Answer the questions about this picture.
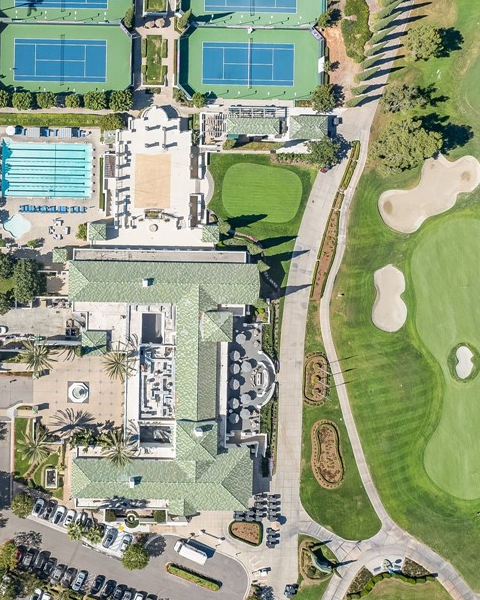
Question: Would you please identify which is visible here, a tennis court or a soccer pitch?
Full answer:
Of the two, only a tennis court appears.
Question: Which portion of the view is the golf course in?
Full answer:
The golf course sits in the right section of the image.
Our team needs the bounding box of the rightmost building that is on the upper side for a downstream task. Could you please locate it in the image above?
[286,115,329,139]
